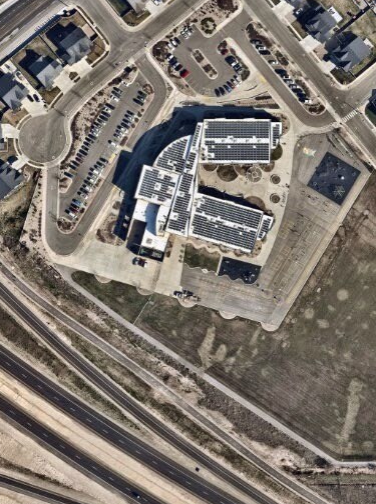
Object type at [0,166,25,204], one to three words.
house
